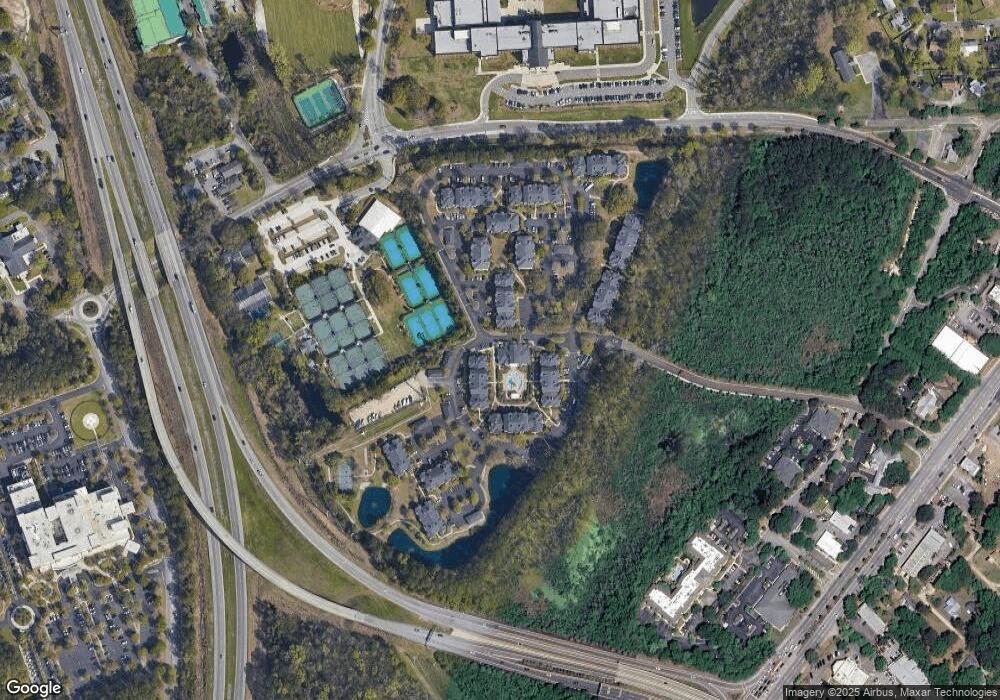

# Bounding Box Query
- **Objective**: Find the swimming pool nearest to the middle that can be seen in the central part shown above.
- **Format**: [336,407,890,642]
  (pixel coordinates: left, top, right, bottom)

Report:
[504,368,527,397]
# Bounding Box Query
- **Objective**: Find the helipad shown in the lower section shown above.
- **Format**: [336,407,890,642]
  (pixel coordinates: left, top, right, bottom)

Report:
[71,401,110,440]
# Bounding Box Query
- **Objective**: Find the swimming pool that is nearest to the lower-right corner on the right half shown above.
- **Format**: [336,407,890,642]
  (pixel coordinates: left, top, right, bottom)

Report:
[670,559,689,582]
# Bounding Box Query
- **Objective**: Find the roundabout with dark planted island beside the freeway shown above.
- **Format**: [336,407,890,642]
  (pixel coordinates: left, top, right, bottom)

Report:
[73,292,107,325]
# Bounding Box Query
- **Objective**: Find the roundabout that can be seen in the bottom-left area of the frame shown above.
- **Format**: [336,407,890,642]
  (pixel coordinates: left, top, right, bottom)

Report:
[5,599,40,636]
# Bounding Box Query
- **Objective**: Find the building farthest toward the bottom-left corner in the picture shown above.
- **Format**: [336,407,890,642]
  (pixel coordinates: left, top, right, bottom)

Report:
[5,478,140,580]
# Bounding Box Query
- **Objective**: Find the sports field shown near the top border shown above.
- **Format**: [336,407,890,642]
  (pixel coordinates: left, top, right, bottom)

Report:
[256,0,363,69]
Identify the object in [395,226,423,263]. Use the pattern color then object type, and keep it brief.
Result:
blue tennis court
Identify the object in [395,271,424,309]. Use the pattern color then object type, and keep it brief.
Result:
blue tennis court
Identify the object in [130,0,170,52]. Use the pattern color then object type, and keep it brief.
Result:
green sports court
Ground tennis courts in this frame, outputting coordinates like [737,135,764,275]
[343,345,373,383]
[317,83,347,117]
[326,311,357,349]
[294,92,322,129]
[416,307,444,342]
[395,271,424,309]
[343,303,374,341]
[311,319,341,357]
[379,234,409,271]
[431,299,458,335]
[327,352,357,391]
[325,267,356,306]
[310,274,341,313]
[402,313,431,349]
[338,464,353,490]
[306,86,335,123]
[294,282,324,320]
[395,226,423,263]
[411,264,441,300]
[359,337,390,375]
